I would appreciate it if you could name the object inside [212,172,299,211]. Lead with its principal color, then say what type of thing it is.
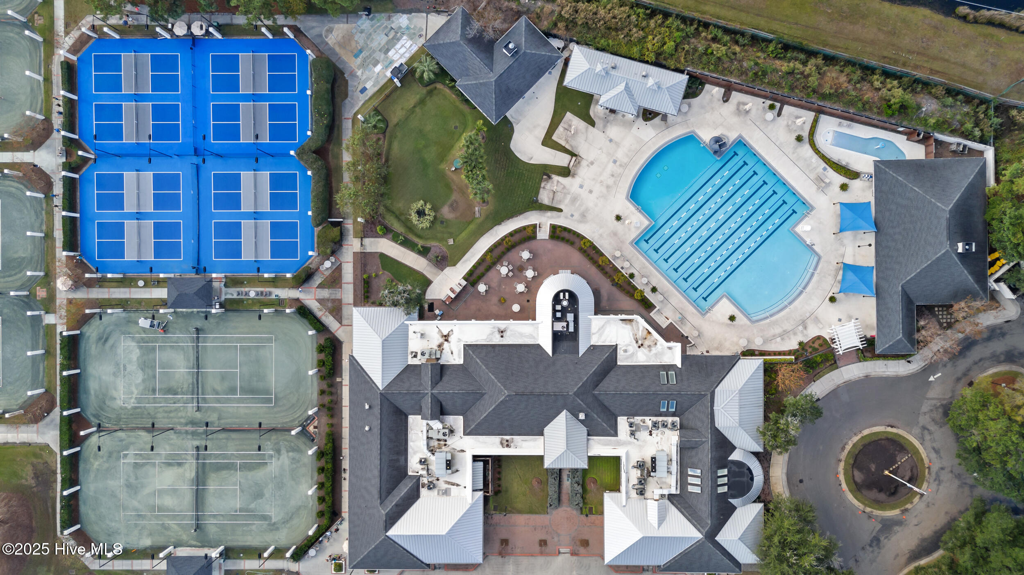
blue sports court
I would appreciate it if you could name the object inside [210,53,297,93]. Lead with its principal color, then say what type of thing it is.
blue sports court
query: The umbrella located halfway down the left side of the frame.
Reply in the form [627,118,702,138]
[58,274,77,292]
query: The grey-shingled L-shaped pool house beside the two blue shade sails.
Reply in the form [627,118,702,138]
[869,157,989,354]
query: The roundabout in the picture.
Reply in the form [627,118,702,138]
[839,427,929,516]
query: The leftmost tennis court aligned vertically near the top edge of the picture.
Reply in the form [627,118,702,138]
[0,20,43,134]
